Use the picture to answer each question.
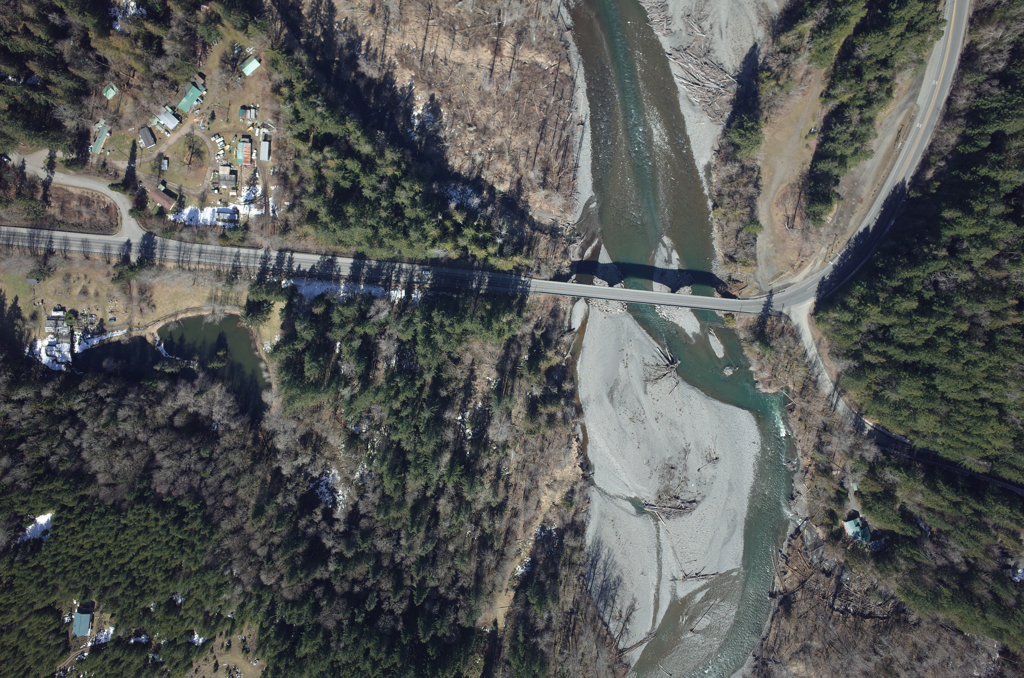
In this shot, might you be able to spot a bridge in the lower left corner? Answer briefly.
No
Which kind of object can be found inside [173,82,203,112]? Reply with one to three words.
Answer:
house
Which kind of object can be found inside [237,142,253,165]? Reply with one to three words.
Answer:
house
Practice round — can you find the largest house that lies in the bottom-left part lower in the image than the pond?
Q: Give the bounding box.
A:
[73,612,93,635]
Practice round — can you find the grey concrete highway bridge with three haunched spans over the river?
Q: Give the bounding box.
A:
[552,282,738,311]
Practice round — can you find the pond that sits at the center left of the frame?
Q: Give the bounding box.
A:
[77,314,269,427]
